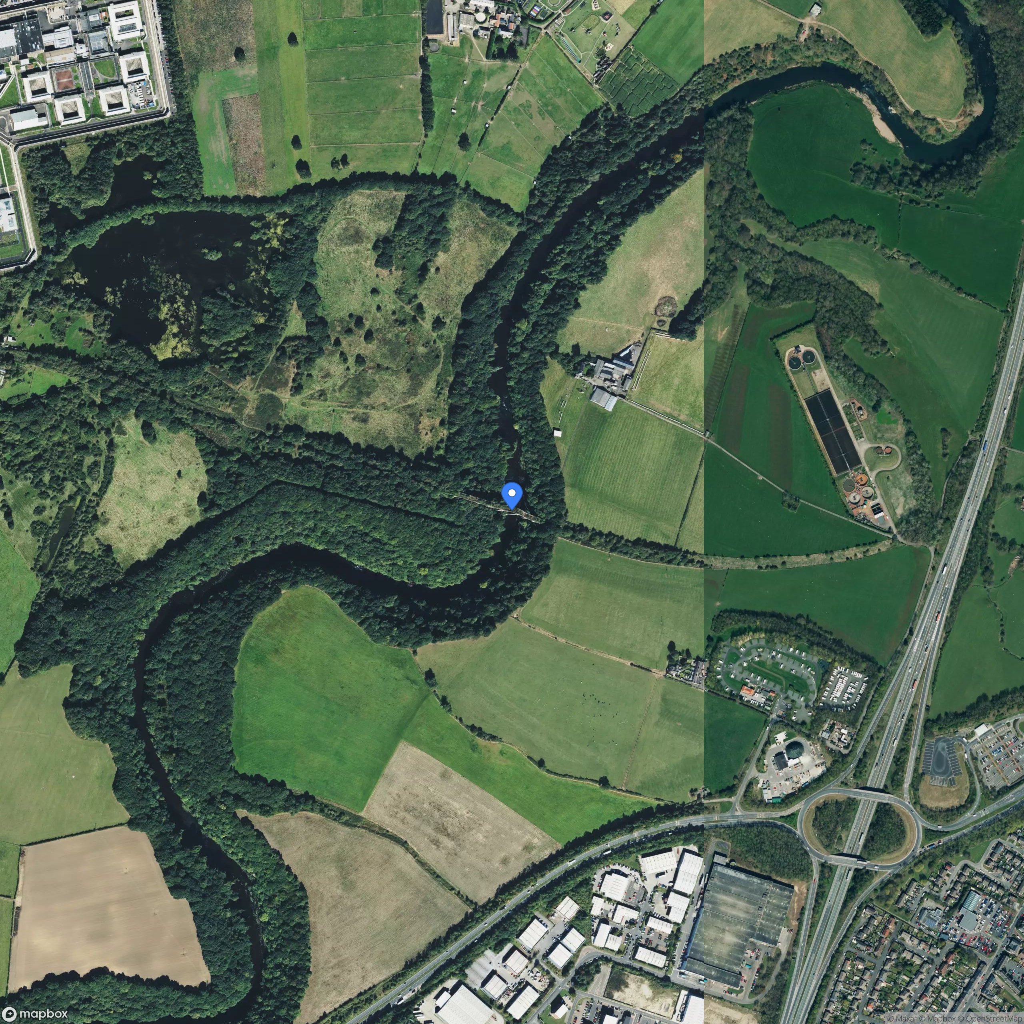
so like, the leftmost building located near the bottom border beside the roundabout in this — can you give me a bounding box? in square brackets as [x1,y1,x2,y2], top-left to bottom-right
[690,864,794,974]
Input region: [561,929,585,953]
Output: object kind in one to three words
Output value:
shed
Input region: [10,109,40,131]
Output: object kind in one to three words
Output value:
building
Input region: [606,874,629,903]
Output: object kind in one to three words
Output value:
shed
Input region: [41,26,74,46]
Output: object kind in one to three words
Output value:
building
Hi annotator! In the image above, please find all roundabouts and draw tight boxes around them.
[798,788,922,870]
